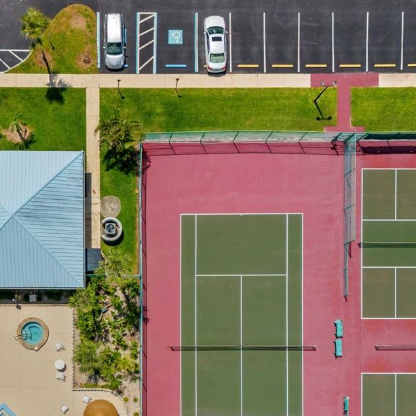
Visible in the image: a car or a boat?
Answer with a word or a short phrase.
car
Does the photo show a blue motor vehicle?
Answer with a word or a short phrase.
No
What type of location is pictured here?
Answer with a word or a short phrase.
sports ground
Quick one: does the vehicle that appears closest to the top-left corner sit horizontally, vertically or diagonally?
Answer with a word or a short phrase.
vertically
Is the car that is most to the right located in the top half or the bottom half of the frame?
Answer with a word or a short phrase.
top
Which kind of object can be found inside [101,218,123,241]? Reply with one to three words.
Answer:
fountain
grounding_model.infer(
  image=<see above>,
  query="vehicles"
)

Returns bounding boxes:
[102,12,127,70]
[205,16,230,73]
